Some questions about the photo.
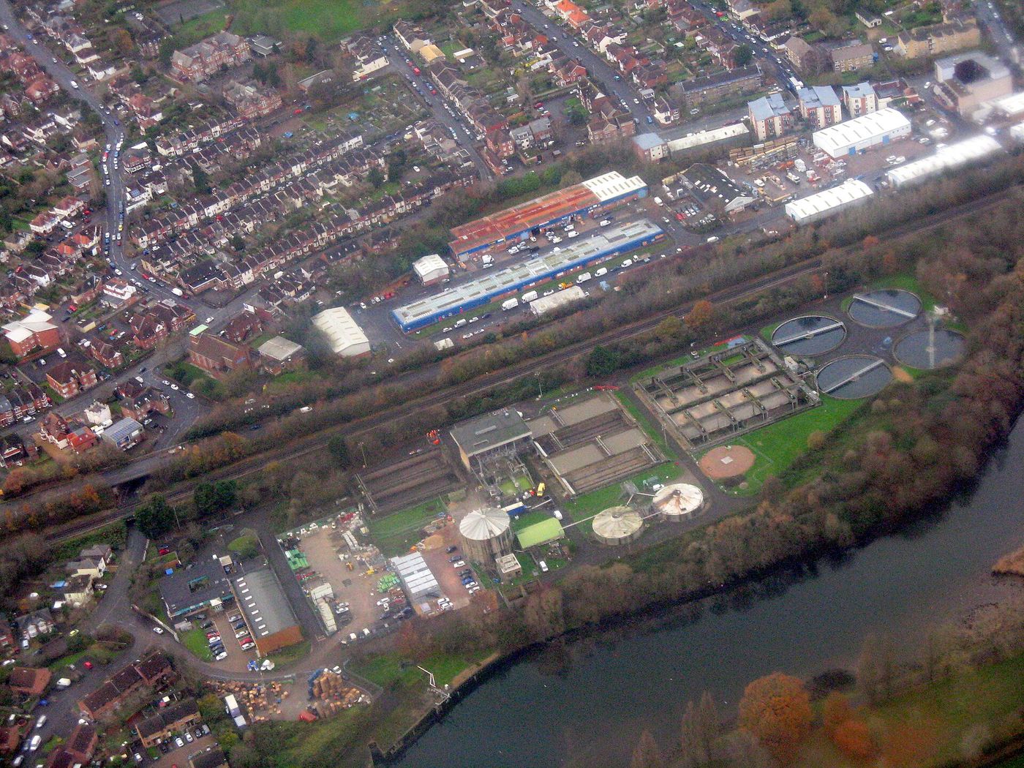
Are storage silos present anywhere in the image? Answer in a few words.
Yes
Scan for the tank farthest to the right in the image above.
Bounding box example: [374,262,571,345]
[893,326,969,373]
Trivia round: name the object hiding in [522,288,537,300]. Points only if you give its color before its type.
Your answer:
white vehicle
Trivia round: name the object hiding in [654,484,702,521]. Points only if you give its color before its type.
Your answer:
white storage tank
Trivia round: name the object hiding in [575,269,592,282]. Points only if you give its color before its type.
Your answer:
white vehicle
